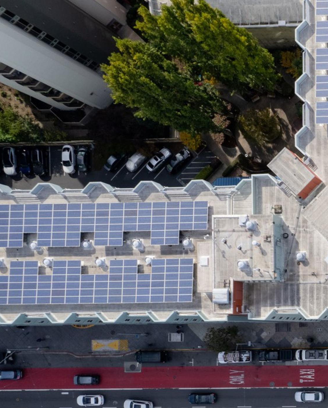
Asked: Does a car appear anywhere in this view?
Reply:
Yes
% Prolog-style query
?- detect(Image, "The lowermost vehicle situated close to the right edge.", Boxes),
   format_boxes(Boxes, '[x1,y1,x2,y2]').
[295,390,325,404]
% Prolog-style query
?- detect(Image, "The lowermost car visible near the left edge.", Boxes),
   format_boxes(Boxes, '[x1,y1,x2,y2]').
[0,369,24,382]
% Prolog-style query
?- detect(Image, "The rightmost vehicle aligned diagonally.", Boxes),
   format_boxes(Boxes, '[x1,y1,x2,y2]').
[167,149,192,173]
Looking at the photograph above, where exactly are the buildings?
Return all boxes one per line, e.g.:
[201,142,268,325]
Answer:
[0,0,127,123]
[0,0,328,331]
